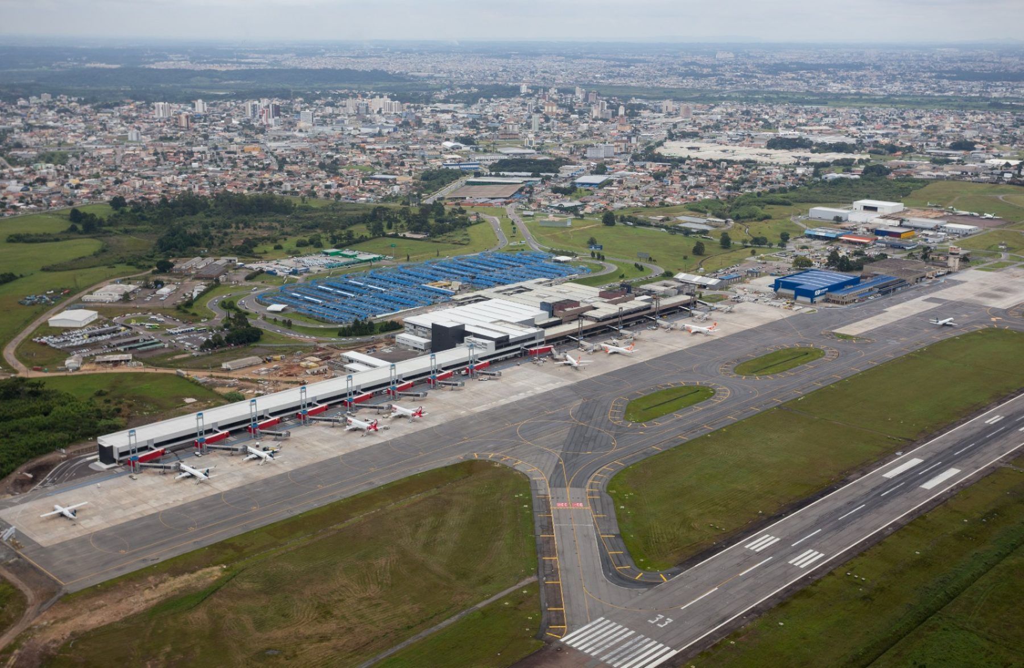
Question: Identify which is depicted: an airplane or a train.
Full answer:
I can see an airplane in this picture.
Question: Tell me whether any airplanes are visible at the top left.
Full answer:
No, there's no airplane to be seen at the top left.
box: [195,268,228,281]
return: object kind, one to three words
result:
building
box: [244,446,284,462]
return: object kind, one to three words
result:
airplane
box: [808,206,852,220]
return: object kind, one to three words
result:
hangar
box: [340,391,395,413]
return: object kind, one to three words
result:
jet bridge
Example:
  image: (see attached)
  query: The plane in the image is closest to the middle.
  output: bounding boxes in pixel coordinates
[554,354,594,367]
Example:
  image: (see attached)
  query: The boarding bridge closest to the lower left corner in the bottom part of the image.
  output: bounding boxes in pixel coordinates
[123,446,183,474]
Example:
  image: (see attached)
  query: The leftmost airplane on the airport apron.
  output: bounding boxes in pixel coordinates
[43,501,88,516]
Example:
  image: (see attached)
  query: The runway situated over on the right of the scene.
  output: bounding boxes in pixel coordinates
[550,393,1024,668]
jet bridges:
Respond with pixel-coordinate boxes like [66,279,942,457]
[189,430,250,455]
[384,380,431,400]
[675,306,716,318]
[424,369,468,389]
[123,446,183,474]
[244,416,292,440]
[603,325,646,338]
[696,298,735,310]
[295,403,351,426]
[564,335,606,349]
[340,391,395,413]
[464,359,504,379]
[521,343,575,357]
